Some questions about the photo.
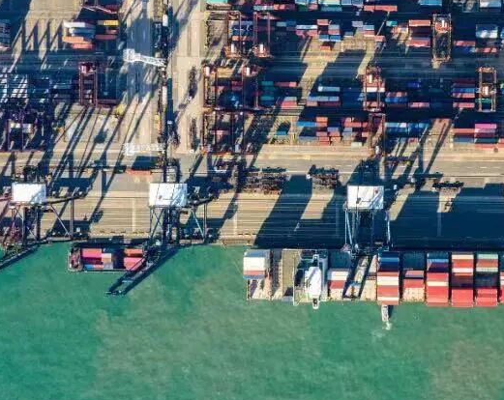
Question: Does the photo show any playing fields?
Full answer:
No, this view has no playing field in it.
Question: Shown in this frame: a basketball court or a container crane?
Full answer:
I can see a container crane in this picture.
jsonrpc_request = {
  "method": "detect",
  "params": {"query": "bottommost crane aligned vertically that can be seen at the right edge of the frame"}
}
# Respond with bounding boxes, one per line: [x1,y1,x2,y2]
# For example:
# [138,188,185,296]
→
[474,61,496,116]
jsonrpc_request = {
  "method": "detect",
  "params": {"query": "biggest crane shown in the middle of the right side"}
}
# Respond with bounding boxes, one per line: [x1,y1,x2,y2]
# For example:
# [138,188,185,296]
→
[340,170,398,296]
